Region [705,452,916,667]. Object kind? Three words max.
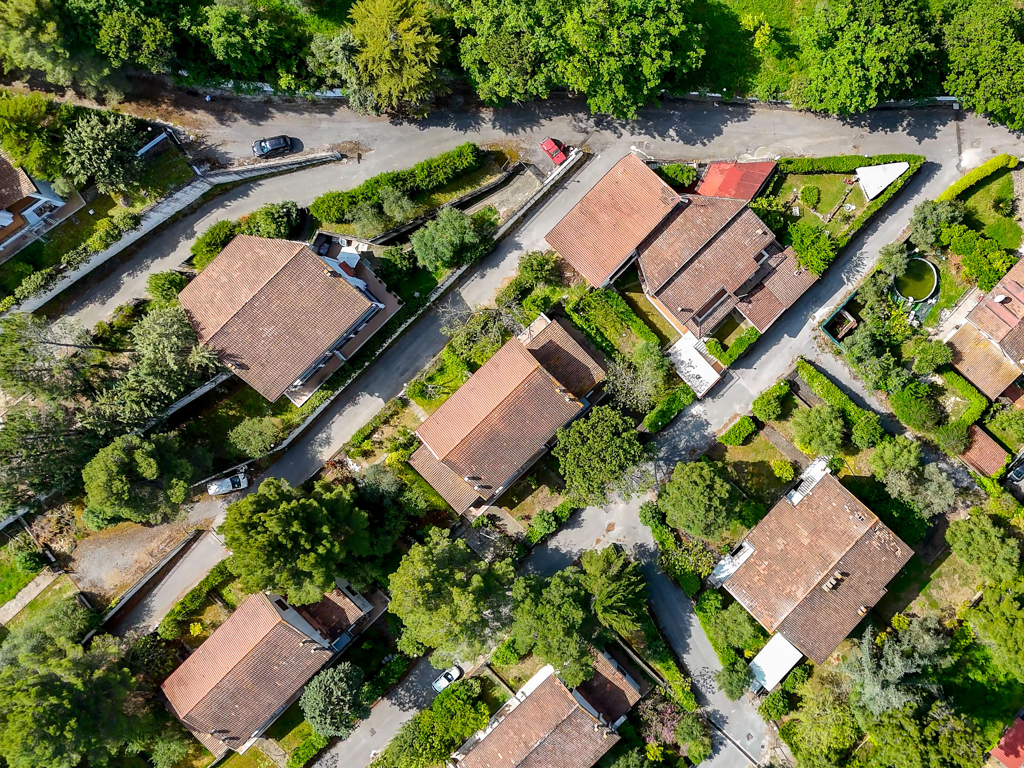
house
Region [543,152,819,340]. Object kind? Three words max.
house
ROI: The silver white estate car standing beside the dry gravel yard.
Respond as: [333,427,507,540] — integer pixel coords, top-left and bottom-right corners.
[205,473,249,499]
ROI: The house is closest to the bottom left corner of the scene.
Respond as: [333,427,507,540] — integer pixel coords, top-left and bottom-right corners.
[160,578,389,759]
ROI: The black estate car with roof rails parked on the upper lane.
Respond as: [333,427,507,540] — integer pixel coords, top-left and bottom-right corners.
[250,135,293,160]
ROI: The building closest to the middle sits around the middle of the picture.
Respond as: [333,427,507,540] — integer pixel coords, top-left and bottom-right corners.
[408,314,605,524]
